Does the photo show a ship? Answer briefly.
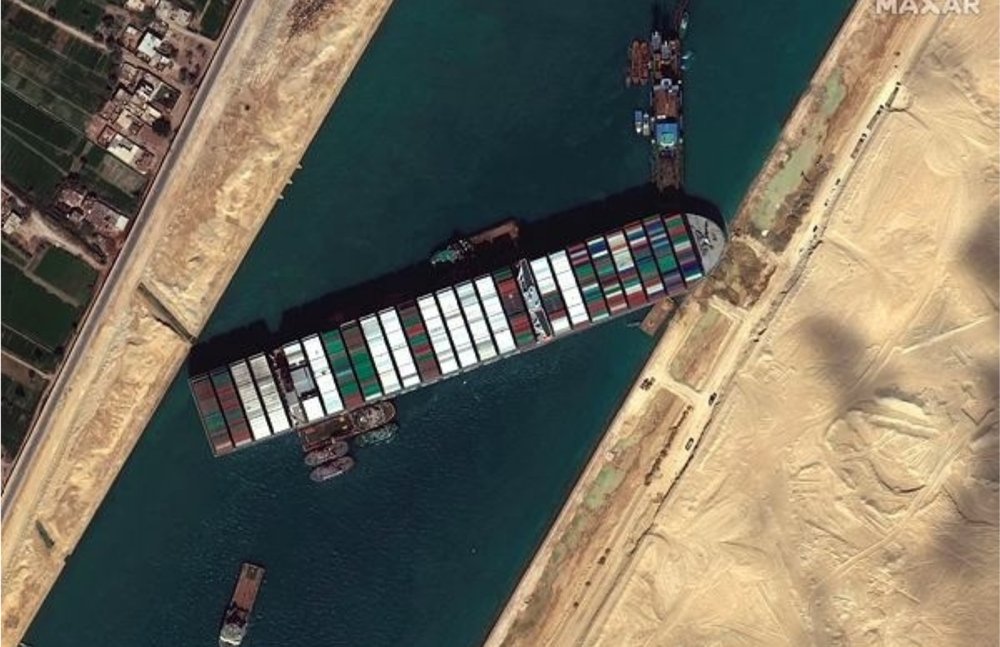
Yes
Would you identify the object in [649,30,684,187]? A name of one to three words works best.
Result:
ship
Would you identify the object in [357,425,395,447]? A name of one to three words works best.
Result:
boat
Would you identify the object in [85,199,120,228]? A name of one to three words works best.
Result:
house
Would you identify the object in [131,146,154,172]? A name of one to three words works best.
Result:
house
